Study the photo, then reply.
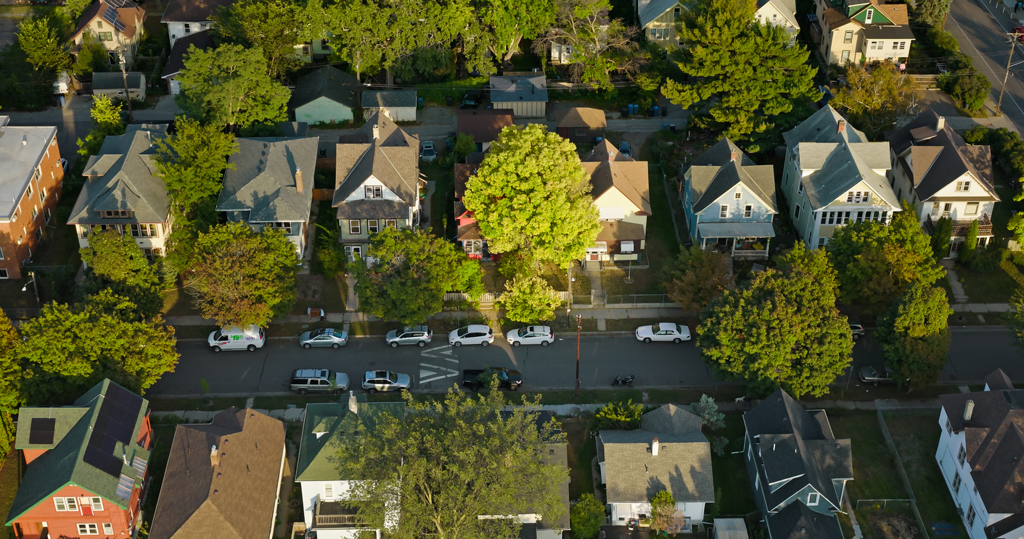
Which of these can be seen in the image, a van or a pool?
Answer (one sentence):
Of the two, only a van appears.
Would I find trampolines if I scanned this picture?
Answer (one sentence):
No, there is no trampoline in the image.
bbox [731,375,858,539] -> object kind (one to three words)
house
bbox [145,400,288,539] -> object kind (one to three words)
house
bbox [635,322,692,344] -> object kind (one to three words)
car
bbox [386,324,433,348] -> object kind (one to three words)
car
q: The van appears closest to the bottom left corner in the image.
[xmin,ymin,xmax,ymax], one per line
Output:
[207,323,268,352]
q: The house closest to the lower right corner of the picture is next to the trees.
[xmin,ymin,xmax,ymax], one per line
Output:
[926,361,1024,539]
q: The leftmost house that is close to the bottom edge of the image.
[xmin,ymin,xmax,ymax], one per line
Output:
[0,376,176,539]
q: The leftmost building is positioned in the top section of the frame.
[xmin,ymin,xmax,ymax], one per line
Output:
[0,112,68,278]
